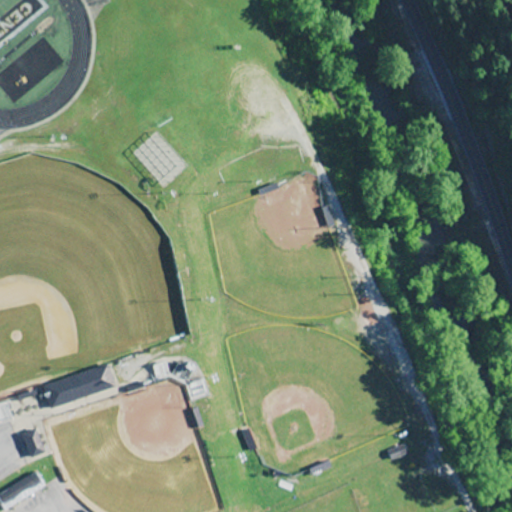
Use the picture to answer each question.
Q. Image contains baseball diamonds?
Yes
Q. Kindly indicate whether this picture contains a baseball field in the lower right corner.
No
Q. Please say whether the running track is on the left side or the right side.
left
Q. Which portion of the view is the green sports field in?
top left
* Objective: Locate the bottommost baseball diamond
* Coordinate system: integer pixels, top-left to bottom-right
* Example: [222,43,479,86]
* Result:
[46,378,223,512]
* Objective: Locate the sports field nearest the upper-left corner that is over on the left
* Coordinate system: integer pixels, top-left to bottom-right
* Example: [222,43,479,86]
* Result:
[0,0,74,108]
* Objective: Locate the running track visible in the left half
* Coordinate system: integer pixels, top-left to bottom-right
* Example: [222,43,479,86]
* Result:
[0,0,93,128]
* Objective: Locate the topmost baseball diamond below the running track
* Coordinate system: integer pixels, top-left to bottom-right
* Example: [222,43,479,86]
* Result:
[0,154,186,398]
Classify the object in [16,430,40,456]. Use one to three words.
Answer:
shed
